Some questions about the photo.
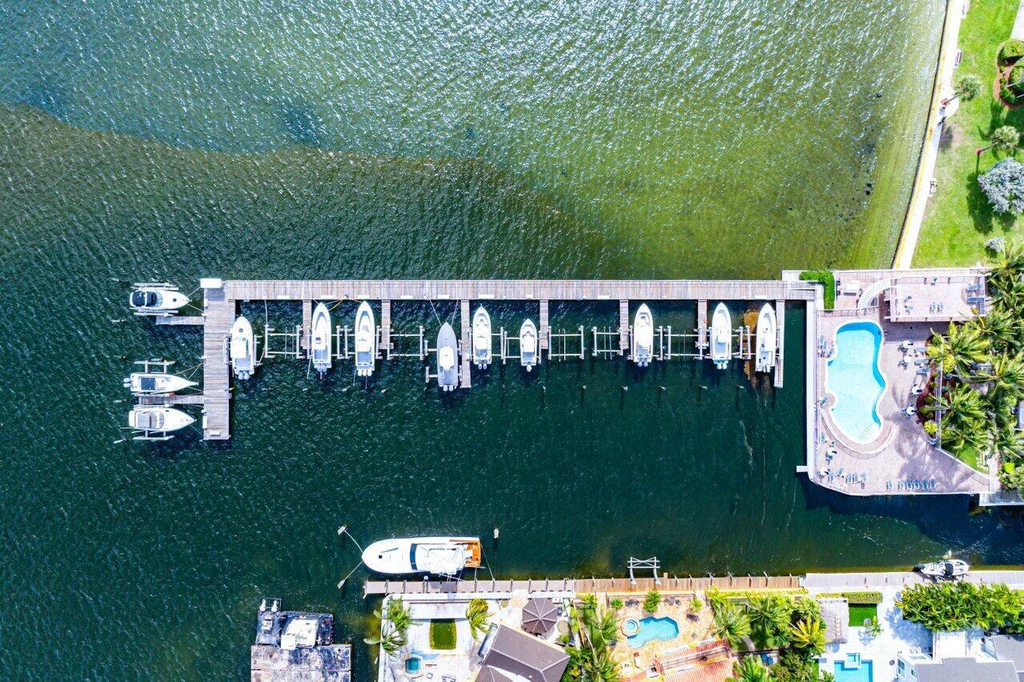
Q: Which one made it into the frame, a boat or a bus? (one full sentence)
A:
This aerial view contains a boat.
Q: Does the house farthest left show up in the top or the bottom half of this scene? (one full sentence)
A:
It is in the bottom half that the house farthest left appears.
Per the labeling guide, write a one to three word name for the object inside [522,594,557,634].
gazebo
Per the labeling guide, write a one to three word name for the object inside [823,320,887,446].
swimming pool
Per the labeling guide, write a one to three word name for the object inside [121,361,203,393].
boat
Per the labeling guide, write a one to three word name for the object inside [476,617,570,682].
house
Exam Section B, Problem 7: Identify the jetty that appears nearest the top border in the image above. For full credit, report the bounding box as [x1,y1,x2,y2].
[139,271,813,441]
